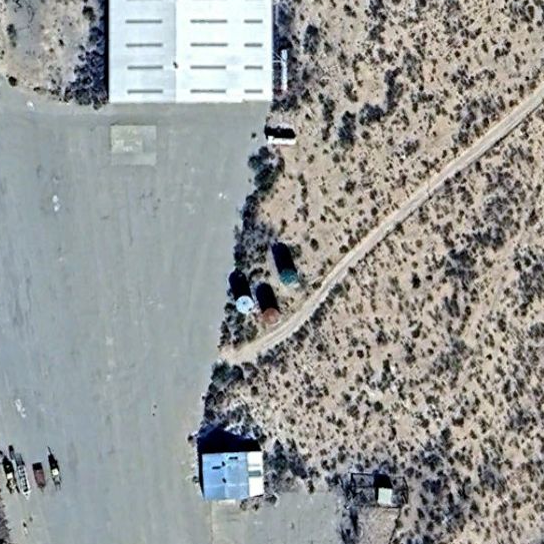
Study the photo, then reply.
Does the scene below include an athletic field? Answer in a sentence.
No, there's no athletic field here.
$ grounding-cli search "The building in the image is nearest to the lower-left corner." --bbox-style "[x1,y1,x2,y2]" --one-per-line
[203,454,264,506]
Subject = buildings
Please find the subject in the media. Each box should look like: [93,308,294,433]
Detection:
[109,0,273,102]
[203,454,264,506]
[379,489,393,505]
